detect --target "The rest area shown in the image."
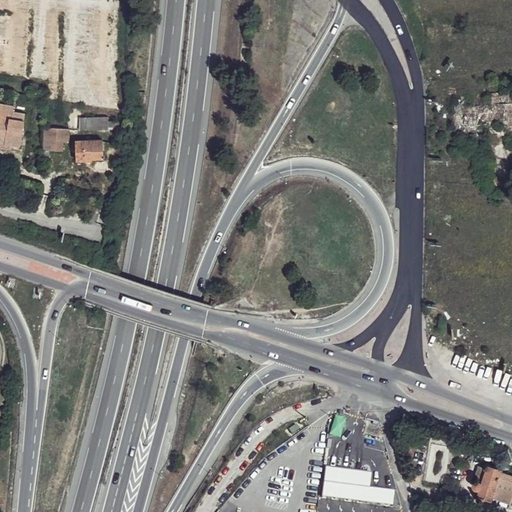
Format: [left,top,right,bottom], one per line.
[321,413,401,512]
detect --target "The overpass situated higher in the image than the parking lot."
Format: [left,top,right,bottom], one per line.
[84,268,264,358]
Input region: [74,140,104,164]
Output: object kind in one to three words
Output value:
house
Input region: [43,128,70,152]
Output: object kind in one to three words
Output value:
house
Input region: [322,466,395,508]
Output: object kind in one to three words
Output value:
building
